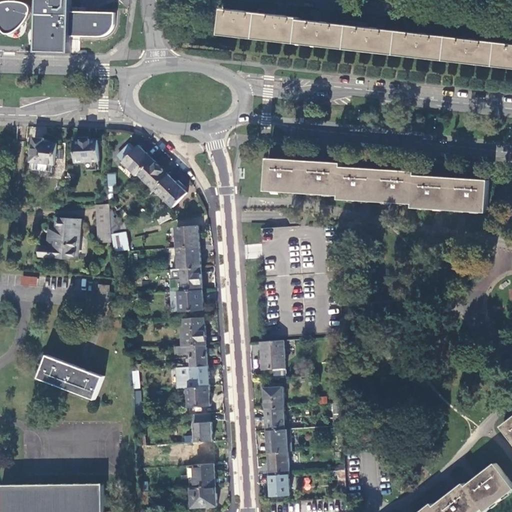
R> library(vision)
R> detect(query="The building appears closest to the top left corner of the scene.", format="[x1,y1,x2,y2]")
[0,0,31,34]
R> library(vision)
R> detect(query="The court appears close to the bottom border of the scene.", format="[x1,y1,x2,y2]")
[21,422,121,490]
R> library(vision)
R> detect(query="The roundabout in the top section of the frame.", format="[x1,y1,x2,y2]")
[133,71,237,124]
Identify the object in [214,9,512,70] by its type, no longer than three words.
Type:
building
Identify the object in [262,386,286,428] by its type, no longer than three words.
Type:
house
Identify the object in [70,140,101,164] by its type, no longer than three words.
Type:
house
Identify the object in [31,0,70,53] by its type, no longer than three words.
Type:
building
